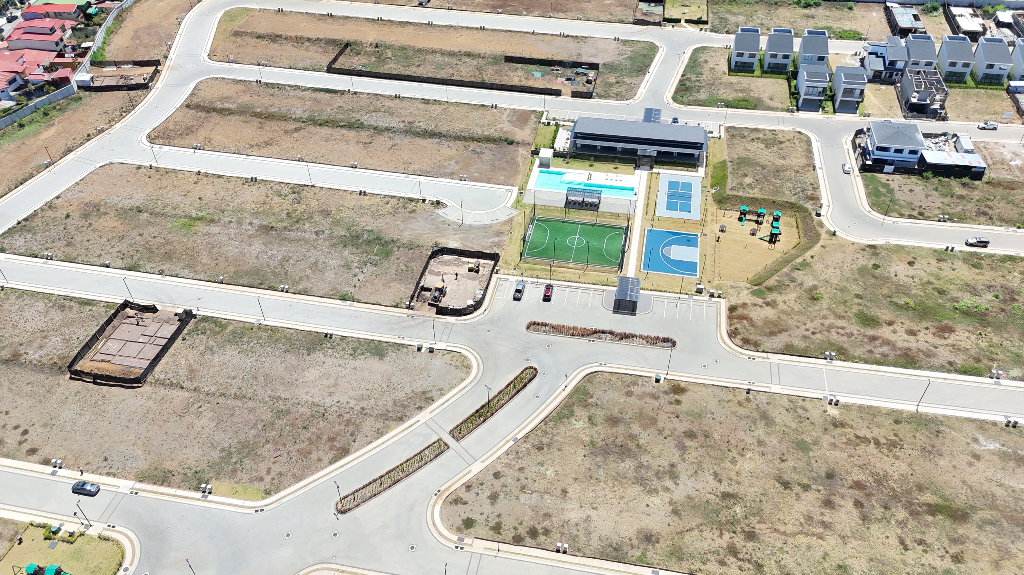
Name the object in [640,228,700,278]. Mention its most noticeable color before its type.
blue basketball court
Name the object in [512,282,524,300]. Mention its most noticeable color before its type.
gray vehicle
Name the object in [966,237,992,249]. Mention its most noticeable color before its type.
gray vehicle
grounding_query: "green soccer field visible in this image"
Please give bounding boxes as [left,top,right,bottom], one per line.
[519,215,630,270]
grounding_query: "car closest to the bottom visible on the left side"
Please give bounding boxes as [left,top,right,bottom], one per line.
[70,480,98,499]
